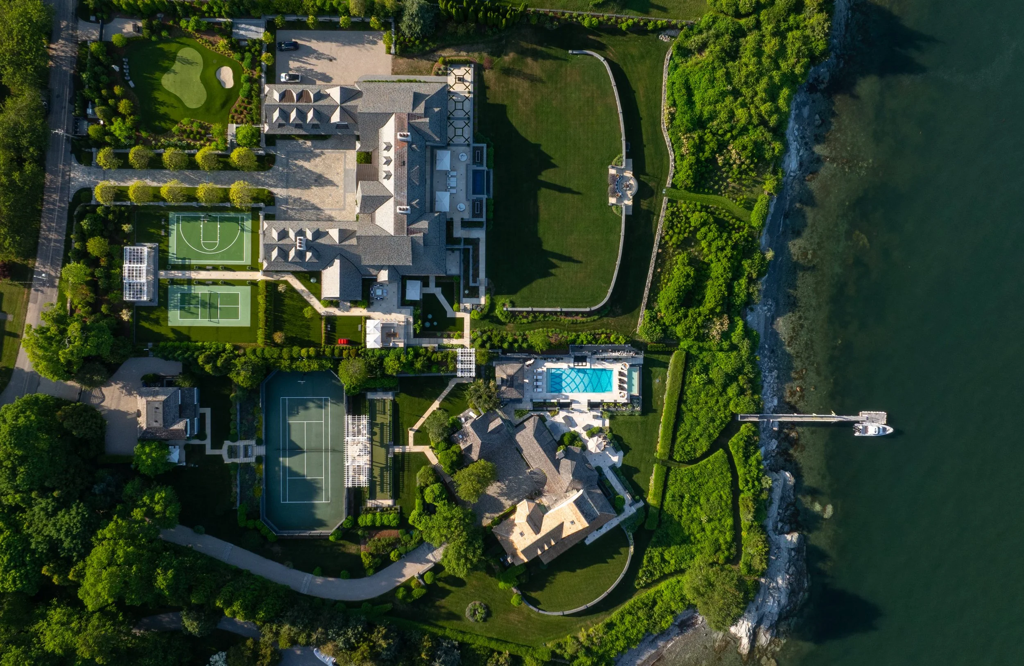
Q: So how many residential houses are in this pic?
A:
3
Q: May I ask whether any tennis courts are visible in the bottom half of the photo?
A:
Yes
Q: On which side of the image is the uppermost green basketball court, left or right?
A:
left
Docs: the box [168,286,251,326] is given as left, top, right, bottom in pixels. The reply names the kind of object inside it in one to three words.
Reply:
sports court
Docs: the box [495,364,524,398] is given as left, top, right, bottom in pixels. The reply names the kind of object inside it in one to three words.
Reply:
building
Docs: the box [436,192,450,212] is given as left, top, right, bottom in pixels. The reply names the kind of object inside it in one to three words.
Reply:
umbrella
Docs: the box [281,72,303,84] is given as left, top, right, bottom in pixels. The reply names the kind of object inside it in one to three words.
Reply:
vehicle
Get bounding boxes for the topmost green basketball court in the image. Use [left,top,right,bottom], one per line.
[169,212,251,265]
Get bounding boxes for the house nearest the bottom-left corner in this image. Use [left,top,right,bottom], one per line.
[137,387,201,439]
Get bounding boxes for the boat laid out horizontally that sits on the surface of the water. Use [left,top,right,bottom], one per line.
[851,423,895,436]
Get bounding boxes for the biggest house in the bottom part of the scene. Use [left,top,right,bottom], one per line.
[450,407,617,578]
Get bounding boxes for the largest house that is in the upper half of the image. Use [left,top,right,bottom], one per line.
[263,82,447,300]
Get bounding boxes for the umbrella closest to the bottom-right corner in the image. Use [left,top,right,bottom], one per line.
[587,437,603,453]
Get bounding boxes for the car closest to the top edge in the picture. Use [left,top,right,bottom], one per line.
[277,40,300,52]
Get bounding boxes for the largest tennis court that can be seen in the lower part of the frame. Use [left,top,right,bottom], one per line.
[265,370,344,532]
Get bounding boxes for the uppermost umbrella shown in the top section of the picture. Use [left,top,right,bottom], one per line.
[437,151,450,170]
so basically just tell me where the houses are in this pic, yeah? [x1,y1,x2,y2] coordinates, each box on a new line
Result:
[137,387,201,439]
[263,82,447,300]
[450,407,617,578]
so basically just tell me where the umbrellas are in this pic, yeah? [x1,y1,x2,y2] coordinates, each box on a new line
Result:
[367,334,381,348]
[437,151,450,170]
[436,192,450,212]
[170,446,182,464]
[367,320,381,334]
[587,437,603,453]
[407,280,421,300]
